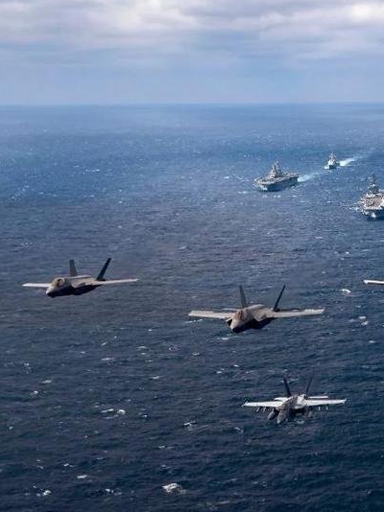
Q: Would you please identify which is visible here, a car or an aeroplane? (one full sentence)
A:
I can see an aeroplane in this picture.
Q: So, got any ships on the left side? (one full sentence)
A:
No, no ship appears on the left side.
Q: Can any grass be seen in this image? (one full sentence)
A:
No, there is no grass in the image.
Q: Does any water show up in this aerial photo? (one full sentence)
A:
Yes, water shows up in the scene.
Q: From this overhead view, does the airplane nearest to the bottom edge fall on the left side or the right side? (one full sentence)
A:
You can find the airplane nearest to the bottom edge on the right side of the picture.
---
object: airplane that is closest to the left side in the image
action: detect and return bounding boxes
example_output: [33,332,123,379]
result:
[23,256,145,300]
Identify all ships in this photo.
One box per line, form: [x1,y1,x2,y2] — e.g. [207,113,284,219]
[328,152,342,168]
[361,178,384,220]
[257,163,298,191]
